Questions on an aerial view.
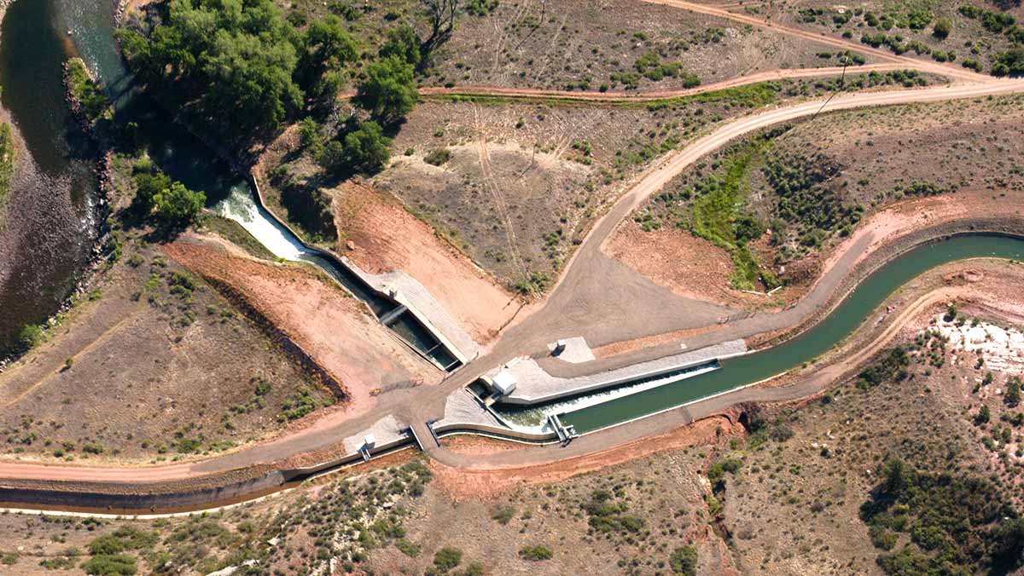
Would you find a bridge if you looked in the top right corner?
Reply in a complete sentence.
No, there is no bridge in the top right corner.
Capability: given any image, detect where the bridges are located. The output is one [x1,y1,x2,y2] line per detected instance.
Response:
[401,420,440,451]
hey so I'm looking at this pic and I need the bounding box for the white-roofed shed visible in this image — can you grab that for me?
[491,368,518,394]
